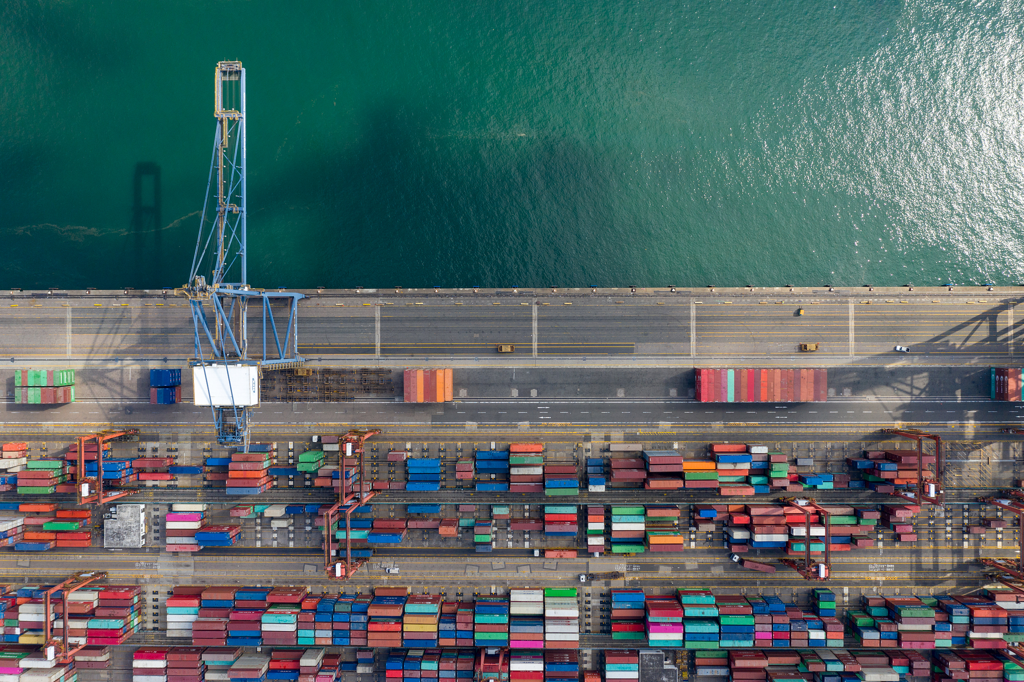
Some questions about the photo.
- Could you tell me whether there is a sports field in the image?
No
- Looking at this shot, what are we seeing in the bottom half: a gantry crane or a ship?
gantry crane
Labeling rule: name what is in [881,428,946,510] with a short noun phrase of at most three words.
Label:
container crane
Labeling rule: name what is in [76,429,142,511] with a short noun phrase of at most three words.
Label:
container crane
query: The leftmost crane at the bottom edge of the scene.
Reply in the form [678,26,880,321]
[40,572,108,666]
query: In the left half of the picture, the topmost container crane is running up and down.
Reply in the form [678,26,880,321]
[171,57,314,453]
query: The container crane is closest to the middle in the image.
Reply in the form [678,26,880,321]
[338,429,385,512]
